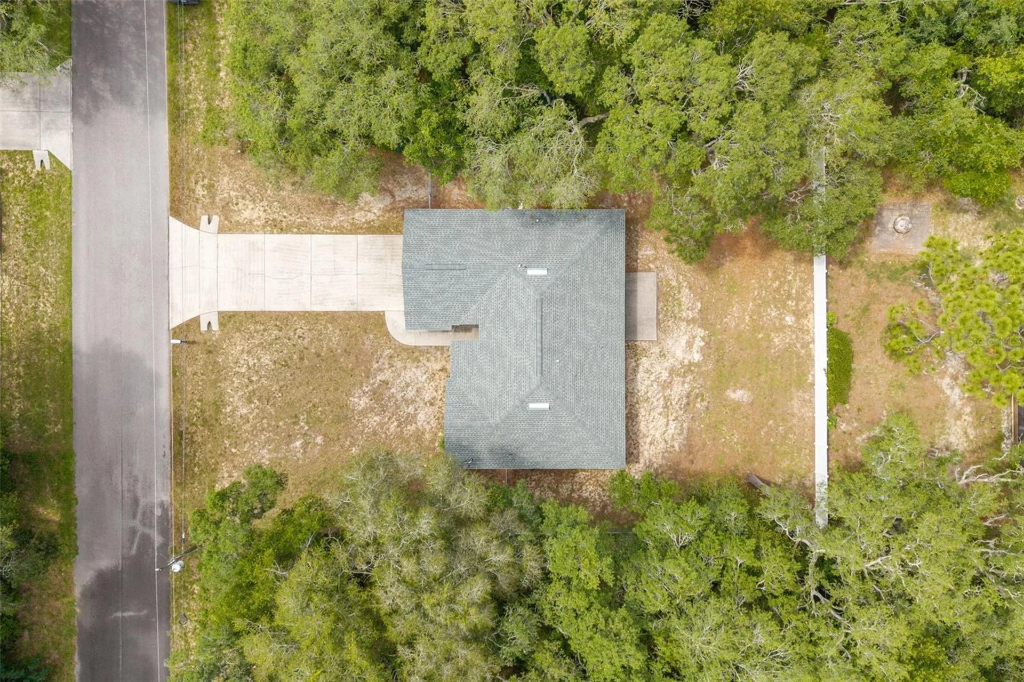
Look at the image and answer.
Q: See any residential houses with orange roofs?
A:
No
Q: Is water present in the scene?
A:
No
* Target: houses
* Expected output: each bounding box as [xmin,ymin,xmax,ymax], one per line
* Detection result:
[402,207,627,471]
